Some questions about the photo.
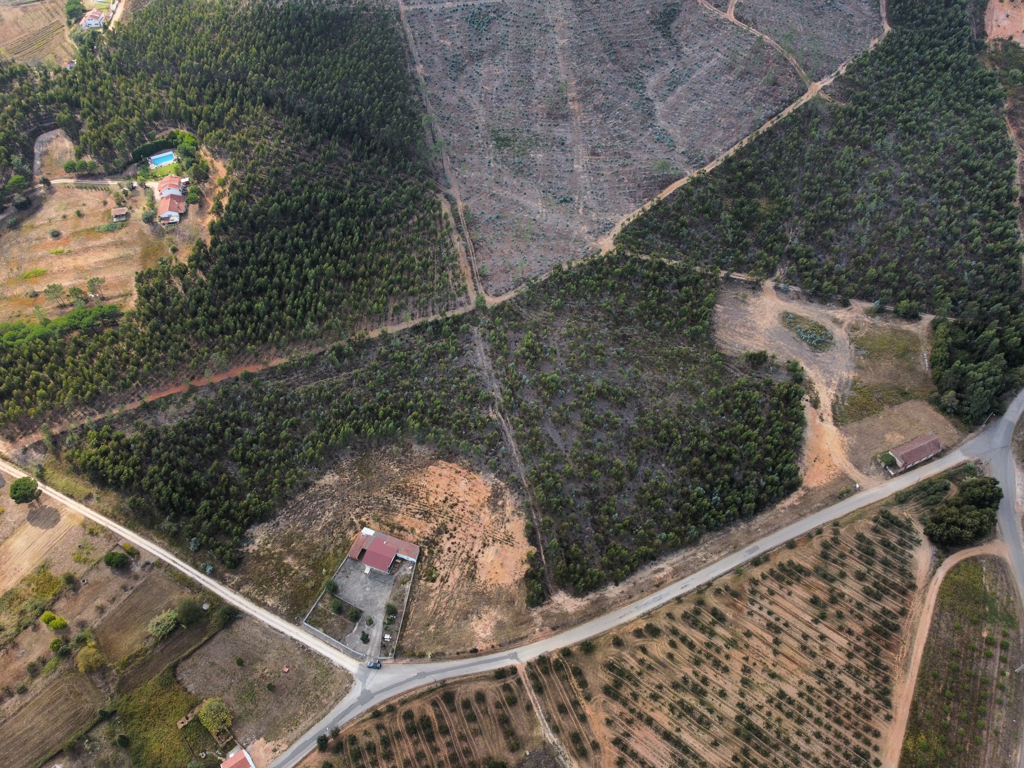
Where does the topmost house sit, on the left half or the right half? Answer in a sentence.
The topmost house is on the left side of the image.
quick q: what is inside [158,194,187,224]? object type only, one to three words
house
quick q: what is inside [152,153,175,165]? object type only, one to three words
swimming pool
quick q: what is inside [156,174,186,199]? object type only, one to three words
house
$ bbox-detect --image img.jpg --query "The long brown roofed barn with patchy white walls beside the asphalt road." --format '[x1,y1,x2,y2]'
[876,435,942,476]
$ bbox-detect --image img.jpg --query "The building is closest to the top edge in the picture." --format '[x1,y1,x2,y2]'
[80,8,114,28]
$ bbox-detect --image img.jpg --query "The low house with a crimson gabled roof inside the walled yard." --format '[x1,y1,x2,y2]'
[347,527,421,575]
